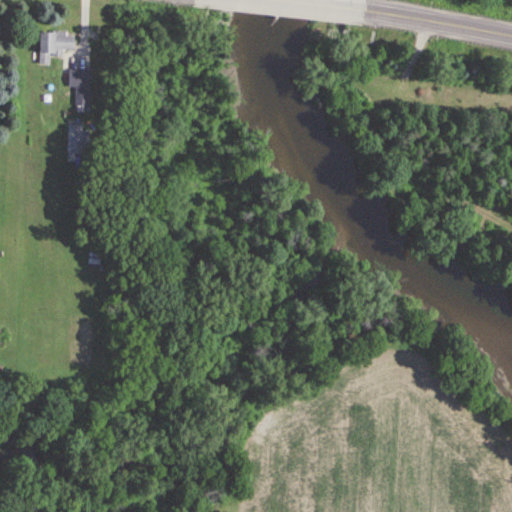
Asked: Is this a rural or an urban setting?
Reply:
rural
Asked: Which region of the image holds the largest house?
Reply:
top left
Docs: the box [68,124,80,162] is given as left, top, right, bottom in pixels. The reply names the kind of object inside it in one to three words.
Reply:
house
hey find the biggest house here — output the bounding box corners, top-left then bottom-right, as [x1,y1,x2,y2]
[40,30,76,65]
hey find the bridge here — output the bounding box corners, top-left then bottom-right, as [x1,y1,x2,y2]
[193,0,368,26]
